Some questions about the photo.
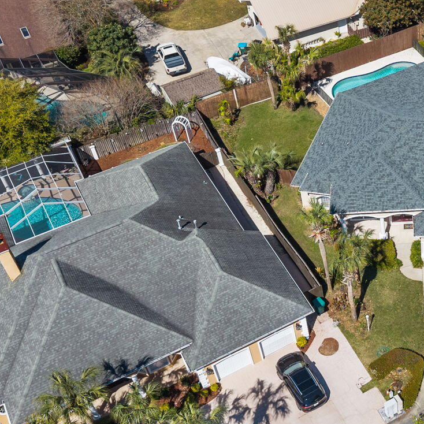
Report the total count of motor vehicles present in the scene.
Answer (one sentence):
The photo contains 2 motor vehicles.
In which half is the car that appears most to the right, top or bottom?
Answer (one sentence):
The bottom half of the photo is where the car that appears most to the right is.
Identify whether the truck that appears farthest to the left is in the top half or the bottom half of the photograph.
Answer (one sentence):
Seen from above, the truck that appears farthest to the left lies in the top half of the view.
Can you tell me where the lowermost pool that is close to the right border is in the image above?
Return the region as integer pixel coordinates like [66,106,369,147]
[328,59,419,102]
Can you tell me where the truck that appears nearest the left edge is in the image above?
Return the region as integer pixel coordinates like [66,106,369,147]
[155,40,188,81]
